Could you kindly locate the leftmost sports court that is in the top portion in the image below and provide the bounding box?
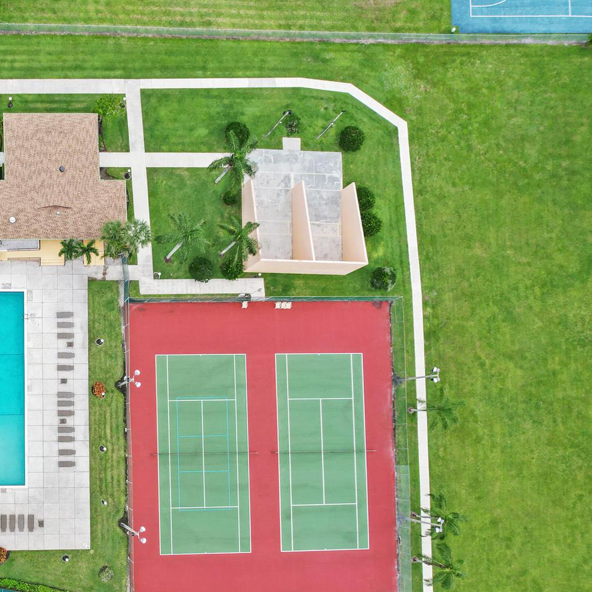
[243,149,367,275]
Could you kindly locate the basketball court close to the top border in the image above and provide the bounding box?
[452,0,592,34]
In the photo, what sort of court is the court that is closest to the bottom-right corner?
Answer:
tennis court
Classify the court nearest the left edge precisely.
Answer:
tennis court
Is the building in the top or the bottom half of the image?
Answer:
top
